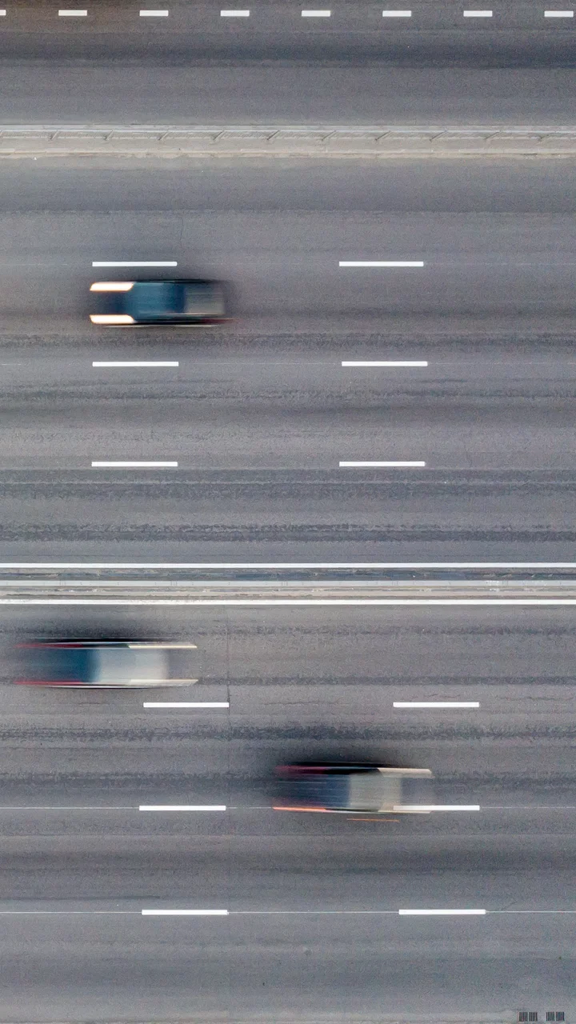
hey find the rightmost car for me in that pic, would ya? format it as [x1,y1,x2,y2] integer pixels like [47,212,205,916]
[278,759,415,817]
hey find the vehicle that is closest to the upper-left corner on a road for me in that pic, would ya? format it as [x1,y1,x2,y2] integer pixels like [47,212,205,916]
[93,272,225,328]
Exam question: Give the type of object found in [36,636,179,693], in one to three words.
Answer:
car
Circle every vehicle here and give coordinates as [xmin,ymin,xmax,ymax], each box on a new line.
[278,759,415,817]
[93,272,225,328]
[36,636,179,693]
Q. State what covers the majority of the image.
paved ground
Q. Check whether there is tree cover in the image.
No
